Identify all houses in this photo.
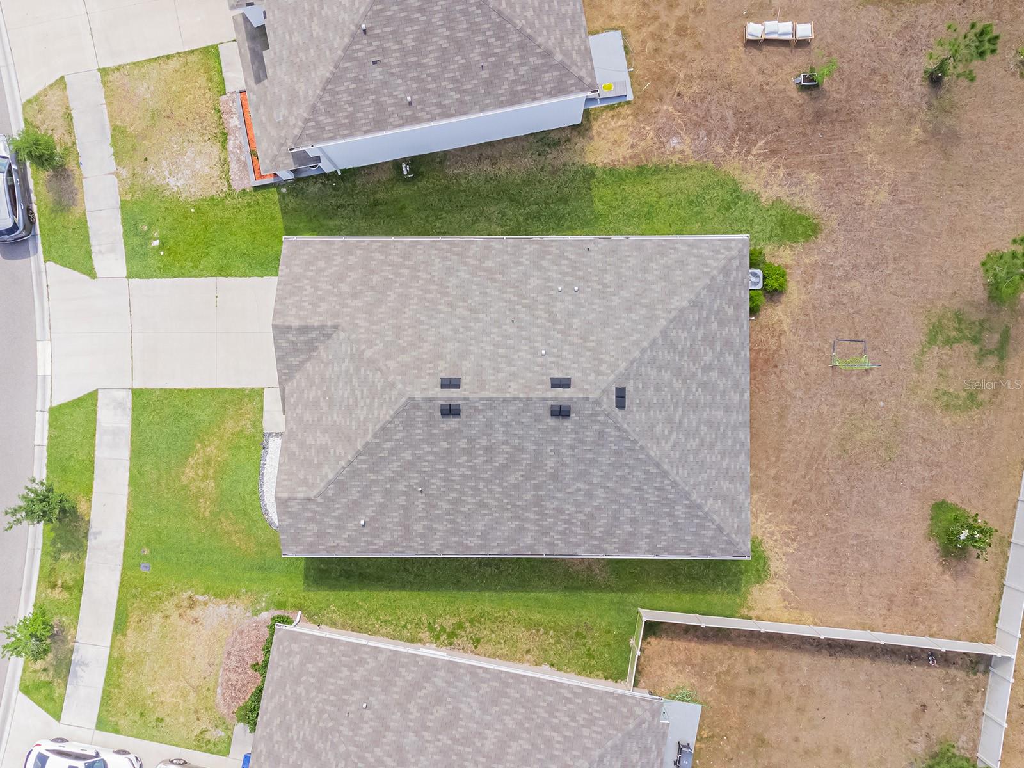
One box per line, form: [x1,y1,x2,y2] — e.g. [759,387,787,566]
[228,0,599,177]
[249,604,670,768]
[273,236,751,557]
